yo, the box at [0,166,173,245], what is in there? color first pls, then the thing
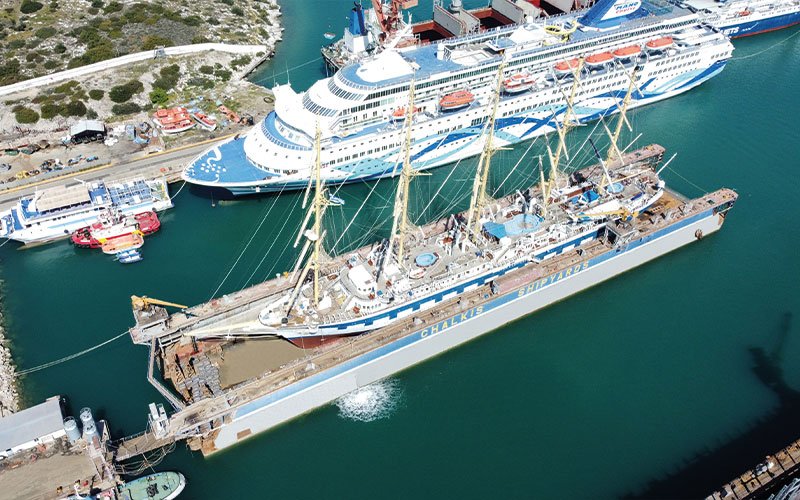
white ship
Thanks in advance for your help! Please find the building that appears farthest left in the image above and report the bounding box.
[0,400,73,473]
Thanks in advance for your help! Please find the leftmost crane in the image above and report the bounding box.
[124,288,193,322]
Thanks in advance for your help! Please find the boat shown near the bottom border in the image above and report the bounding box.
[115,469,191,500]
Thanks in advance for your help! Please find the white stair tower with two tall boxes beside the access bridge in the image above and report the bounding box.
[141,395,175,444]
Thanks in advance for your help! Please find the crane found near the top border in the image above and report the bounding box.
[370,0,420,48]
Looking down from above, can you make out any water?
Yes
